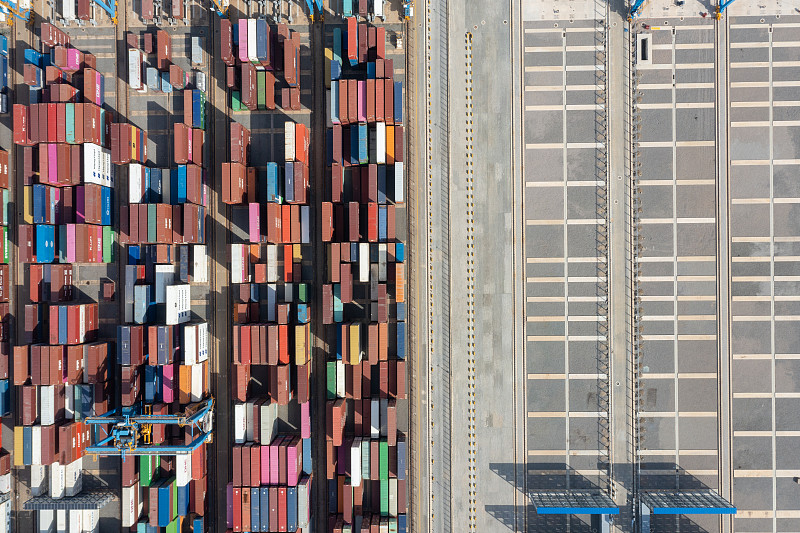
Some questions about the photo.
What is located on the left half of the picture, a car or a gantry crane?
gantry crane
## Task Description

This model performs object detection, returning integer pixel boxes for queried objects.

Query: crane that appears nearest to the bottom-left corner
[84,392,219,455]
